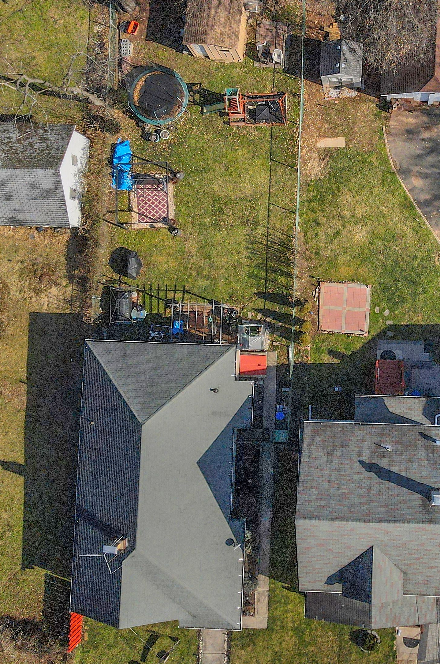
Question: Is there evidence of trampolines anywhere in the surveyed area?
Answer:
Yes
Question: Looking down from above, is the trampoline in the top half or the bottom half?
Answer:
top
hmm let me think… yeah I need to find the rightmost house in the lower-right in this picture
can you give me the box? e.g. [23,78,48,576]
[296,394,440,628]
